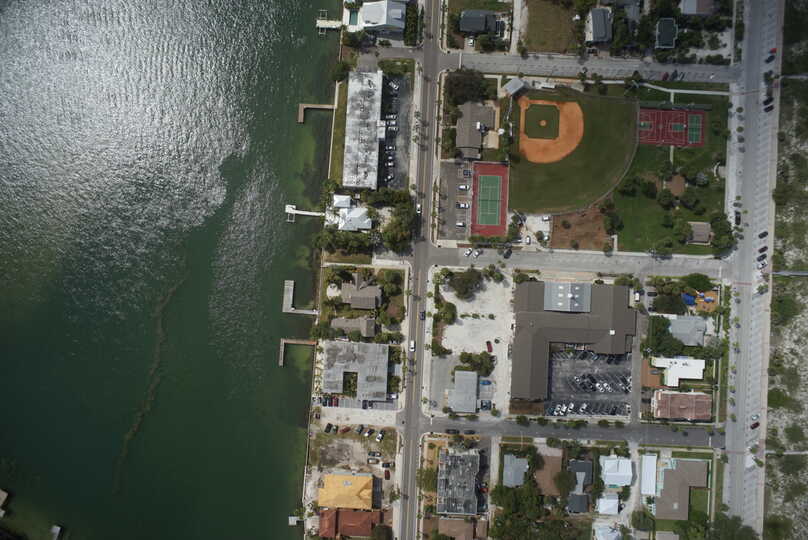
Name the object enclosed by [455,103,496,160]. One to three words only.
building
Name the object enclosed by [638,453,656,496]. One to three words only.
shed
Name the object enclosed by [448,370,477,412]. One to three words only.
building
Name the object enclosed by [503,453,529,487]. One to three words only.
house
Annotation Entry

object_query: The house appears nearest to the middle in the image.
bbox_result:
[342,272,381,309]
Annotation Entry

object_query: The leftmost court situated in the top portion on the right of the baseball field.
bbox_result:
[638,109,686,146]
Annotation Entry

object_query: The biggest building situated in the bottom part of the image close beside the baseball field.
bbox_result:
[510,283,638,402]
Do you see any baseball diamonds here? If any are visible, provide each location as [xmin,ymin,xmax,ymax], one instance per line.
[511,88,638,217]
